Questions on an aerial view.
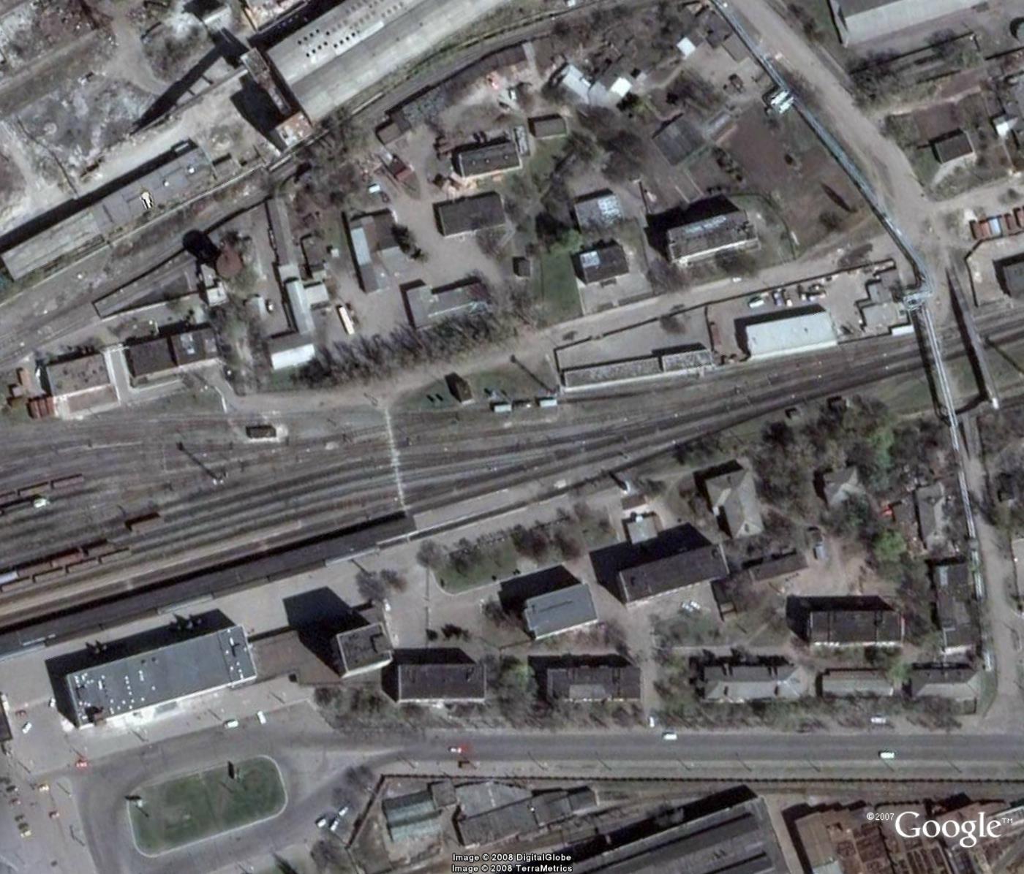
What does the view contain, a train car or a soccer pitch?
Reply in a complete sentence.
The one in the frame is a train car.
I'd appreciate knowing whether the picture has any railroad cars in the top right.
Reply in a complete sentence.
No, there is no railroad car in the top right.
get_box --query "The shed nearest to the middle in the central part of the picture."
[454,374,473,403]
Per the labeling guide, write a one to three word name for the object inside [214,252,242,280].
water tower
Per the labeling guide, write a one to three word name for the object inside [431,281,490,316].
building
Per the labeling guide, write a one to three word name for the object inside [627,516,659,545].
house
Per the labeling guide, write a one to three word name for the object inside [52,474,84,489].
rail car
